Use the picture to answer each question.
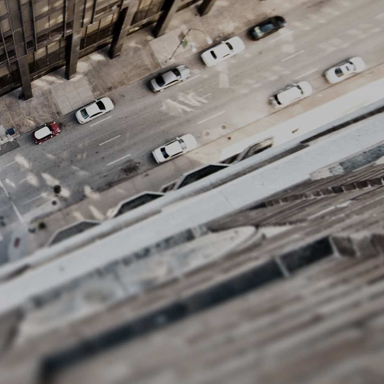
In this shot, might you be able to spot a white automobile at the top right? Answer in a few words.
Yes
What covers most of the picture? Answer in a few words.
buildings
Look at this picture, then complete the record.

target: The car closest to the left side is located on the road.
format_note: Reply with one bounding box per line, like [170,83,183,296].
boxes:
[31,122,63,144]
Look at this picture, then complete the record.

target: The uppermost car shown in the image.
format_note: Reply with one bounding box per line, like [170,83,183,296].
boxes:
[246,16,289,43]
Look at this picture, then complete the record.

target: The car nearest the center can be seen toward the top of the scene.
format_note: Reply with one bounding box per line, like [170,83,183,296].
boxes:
[152,132,198,163]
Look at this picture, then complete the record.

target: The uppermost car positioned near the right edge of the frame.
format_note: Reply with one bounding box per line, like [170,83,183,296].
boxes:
[323,56,368,84]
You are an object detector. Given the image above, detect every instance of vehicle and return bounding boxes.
[148,64,191,93]
[199,36,247,67]
[246,16,289,43]
[75,99,115,125]
[31,122,63,144]
[323,56,368,84]
[152,132,198,163]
